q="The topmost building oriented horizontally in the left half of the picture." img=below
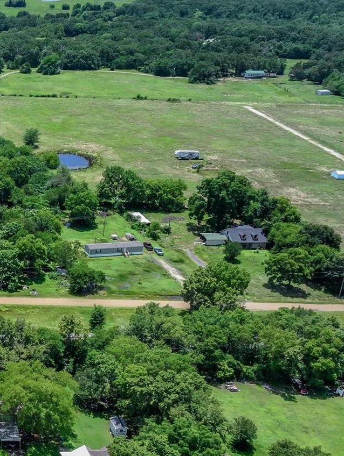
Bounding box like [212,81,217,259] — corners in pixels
[84,241,143,260]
